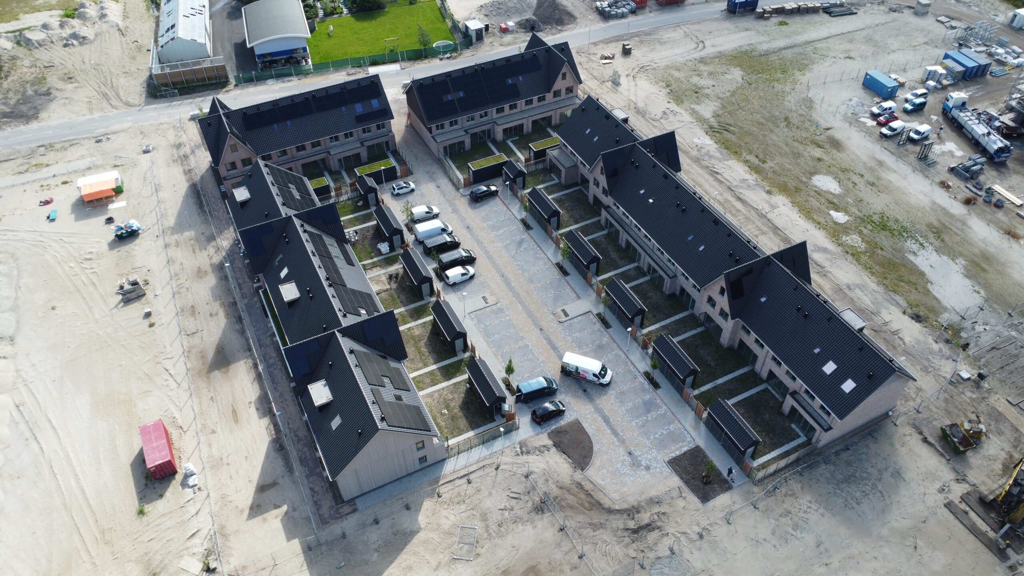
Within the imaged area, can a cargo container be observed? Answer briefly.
Yes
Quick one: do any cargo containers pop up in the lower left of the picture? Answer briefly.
Yes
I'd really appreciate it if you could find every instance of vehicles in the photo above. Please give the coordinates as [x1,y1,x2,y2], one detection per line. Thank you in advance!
[439,246,476,267]
[409,204,439,221]
[443,265,476,286]
[392,180,416,195]
[902,97,930,113]
[424,230,461,252]
[943,93,1012,159]
[875,111,900,126]
[908,122,934,141]
[881,118,908,137]
[469,183,499,201]
[411,216,452,241]
[509,376,560,405]
[902,86,930,100]
[564,352,613,386]
[870,101,899,116]
[531,401,566,425]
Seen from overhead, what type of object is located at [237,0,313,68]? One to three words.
building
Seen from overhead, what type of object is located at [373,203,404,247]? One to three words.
shed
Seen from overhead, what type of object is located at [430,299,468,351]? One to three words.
shed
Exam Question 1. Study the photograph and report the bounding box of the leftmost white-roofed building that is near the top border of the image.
[155,0,213,63]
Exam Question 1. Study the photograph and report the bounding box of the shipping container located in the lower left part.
[138,419,178,481]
